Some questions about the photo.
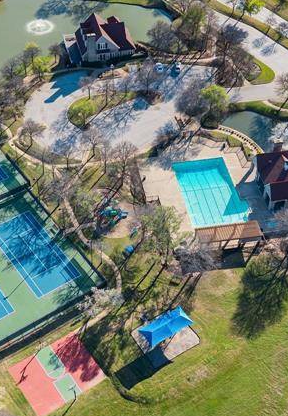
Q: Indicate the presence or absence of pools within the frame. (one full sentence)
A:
Yes, there's a pool down there.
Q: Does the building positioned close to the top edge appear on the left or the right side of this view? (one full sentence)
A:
The building positioned close to the top edge is on the left side of the image.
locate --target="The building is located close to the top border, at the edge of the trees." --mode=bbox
[56,14,127,71]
